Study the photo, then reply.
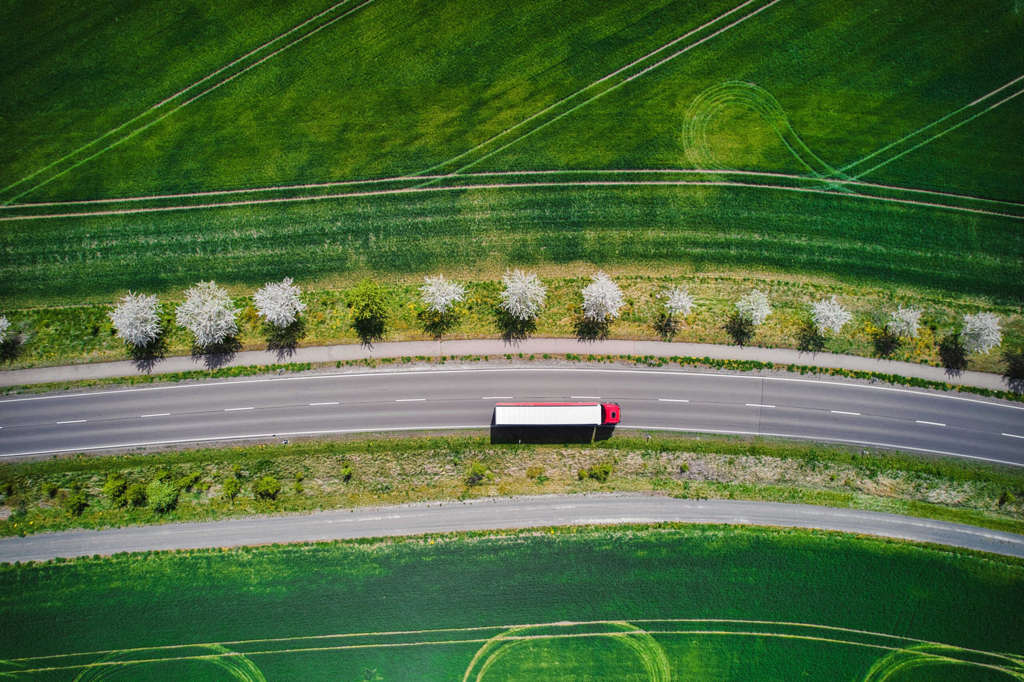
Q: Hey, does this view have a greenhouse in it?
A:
No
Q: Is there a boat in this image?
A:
No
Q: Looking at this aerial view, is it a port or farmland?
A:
farmland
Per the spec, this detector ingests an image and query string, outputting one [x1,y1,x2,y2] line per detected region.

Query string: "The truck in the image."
[496,402,621,425]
